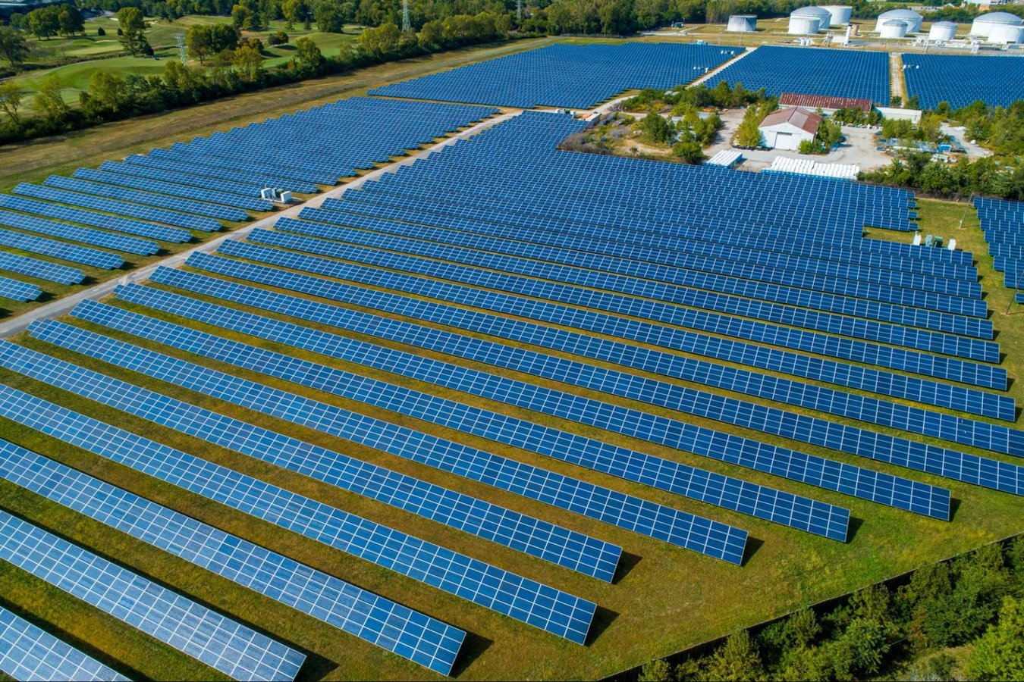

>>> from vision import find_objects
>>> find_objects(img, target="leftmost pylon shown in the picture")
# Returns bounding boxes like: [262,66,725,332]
[172,32,189,63]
